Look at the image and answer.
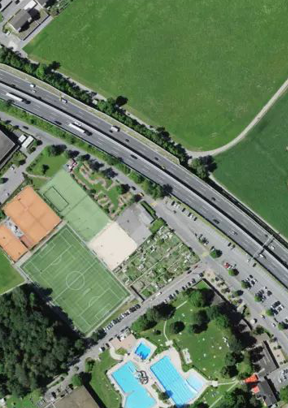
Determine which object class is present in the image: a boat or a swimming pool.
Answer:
swimming pool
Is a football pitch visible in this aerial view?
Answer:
Yes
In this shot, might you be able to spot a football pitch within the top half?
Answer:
No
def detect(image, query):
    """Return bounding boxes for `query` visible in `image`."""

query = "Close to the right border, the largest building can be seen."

[253,343,277,375]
